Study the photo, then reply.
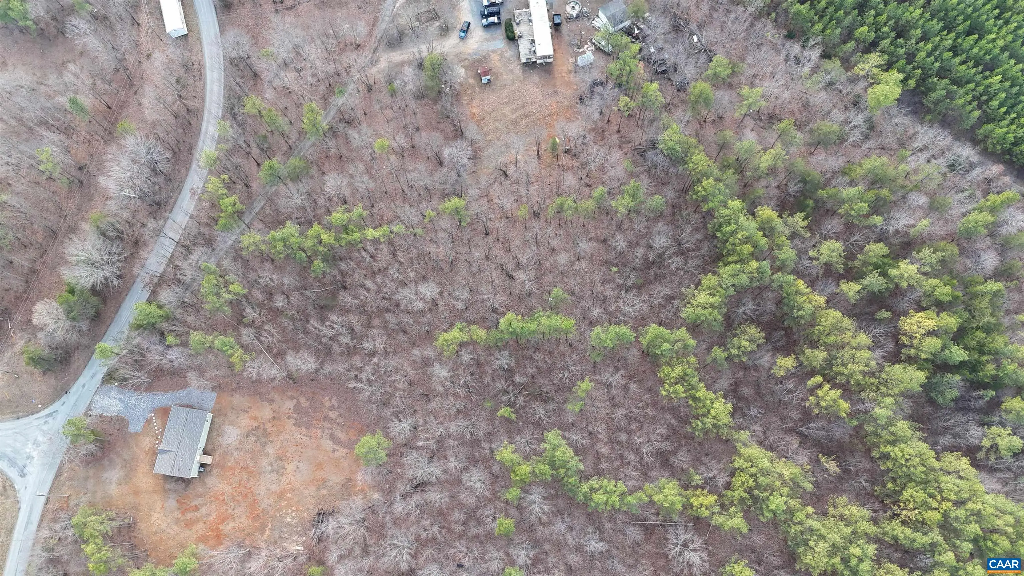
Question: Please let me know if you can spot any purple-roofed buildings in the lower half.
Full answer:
No, I can find no purple-roofed building in the lower half.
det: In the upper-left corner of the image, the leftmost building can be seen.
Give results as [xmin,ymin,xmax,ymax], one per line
[160,0,188,38]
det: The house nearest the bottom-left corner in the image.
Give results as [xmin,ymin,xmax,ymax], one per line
[153,406,214,478]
